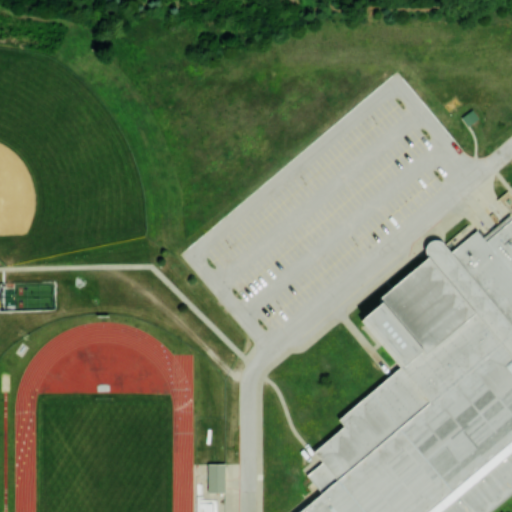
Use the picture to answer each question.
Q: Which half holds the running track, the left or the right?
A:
left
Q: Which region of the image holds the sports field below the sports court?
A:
bottom left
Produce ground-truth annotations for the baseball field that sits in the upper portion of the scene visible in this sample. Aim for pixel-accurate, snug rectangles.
[0,47,146,266]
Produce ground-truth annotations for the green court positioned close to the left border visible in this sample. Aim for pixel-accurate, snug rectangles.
[0,280,58,314]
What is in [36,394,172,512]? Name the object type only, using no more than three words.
sports field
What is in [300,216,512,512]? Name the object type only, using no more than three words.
building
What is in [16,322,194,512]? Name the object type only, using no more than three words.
running track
